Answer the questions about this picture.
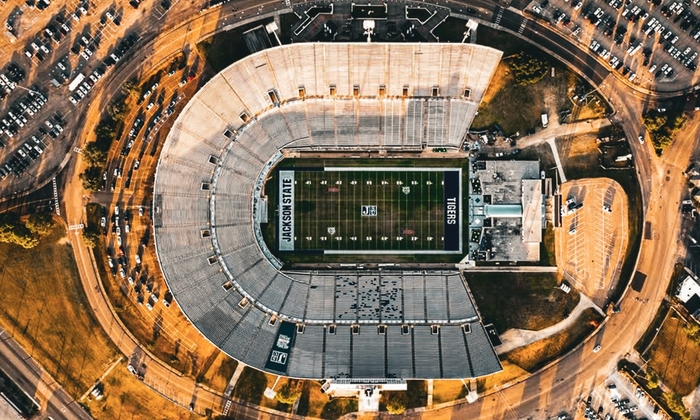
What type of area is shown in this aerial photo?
sports ground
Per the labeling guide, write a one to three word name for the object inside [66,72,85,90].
vehicle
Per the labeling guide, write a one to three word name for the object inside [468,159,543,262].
building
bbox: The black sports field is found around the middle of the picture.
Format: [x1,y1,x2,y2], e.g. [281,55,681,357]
[261,157,469,265]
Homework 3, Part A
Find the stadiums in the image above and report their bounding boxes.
[152,40,504,411]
